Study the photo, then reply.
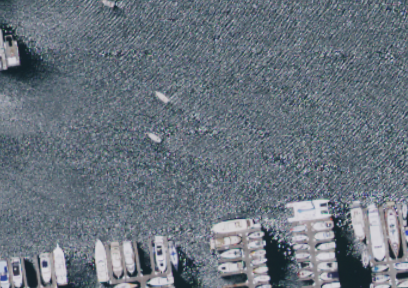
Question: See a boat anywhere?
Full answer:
Yes, a boat can be made out from above.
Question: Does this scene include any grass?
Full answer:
No, there's no grass in this view.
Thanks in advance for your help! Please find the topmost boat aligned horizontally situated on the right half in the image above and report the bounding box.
[286,198,332,221]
